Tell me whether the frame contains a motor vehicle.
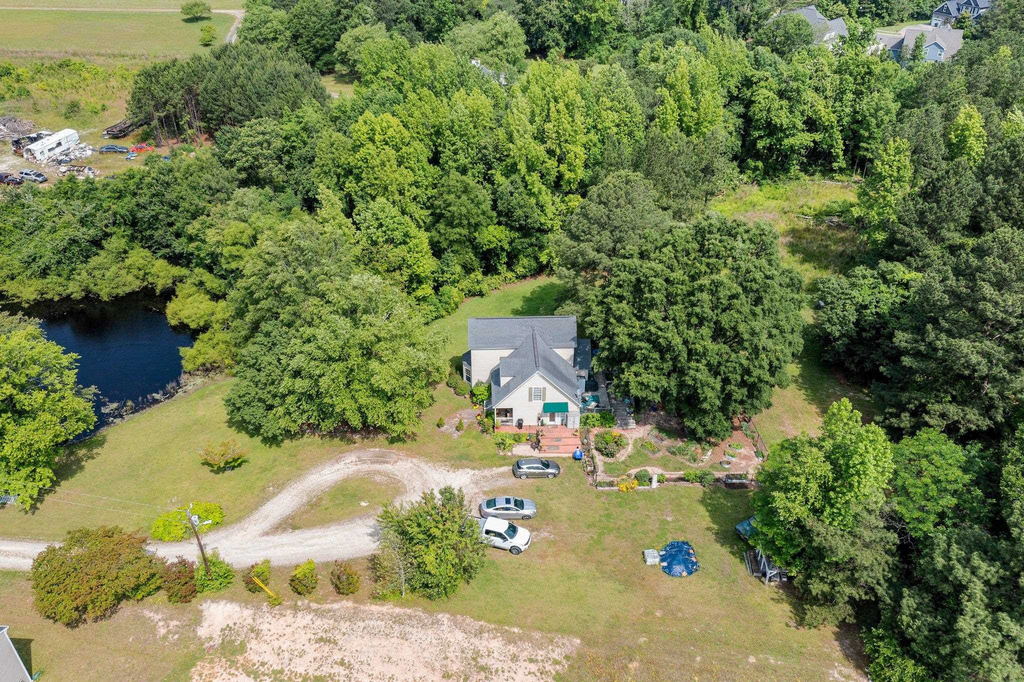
Yes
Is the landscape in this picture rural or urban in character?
rural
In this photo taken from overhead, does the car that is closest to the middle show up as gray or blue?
gray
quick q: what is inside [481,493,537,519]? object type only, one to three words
car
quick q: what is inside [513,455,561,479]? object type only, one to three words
car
